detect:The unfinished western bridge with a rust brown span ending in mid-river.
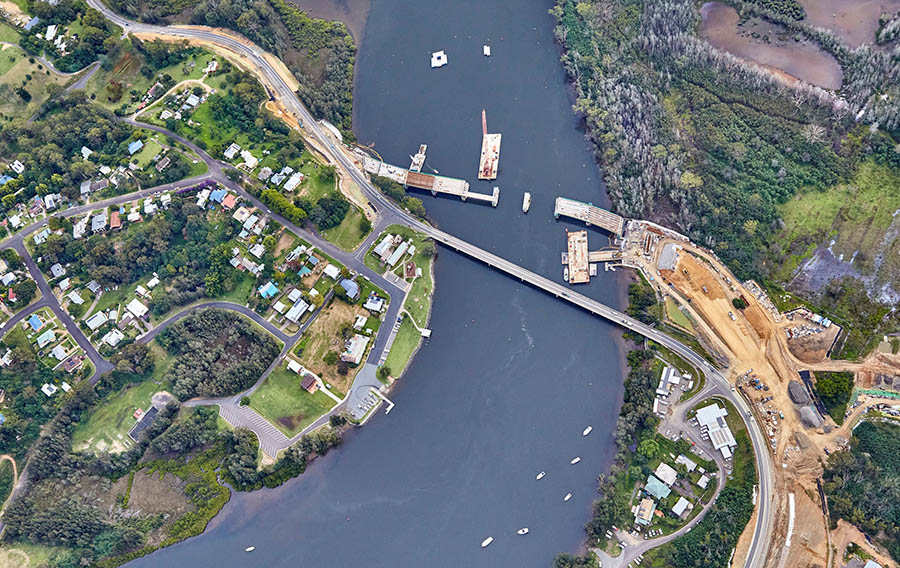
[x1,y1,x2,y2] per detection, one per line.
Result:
[359,153,499,210]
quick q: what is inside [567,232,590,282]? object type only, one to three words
ship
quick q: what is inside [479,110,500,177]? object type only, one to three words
ship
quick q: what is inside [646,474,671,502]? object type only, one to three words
house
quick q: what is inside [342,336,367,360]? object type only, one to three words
building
